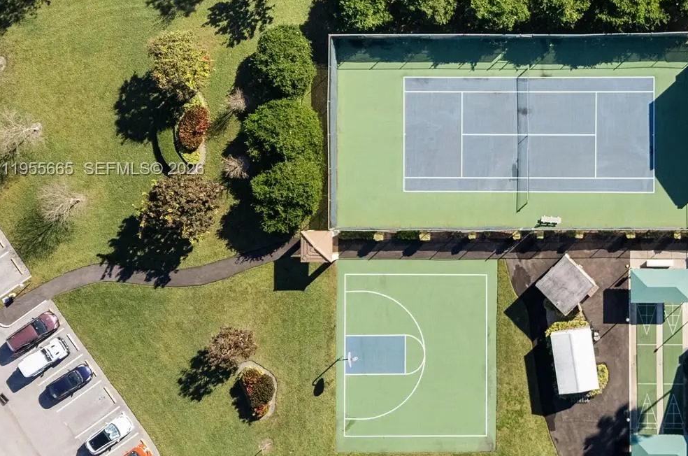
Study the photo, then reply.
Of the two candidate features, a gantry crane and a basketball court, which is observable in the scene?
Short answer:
basketball court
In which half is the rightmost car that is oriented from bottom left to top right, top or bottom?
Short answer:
bottom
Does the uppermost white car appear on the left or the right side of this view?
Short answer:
left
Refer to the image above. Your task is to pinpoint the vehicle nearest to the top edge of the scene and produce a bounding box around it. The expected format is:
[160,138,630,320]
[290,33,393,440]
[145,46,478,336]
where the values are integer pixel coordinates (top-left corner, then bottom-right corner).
[2,313,57,356]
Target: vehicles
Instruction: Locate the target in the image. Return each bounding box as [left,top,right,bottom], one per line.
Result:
[122,443,150,456]
[11,338,68,382]
[82,416,132,456]
[2,313,57,356]
[40,363,92,405]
